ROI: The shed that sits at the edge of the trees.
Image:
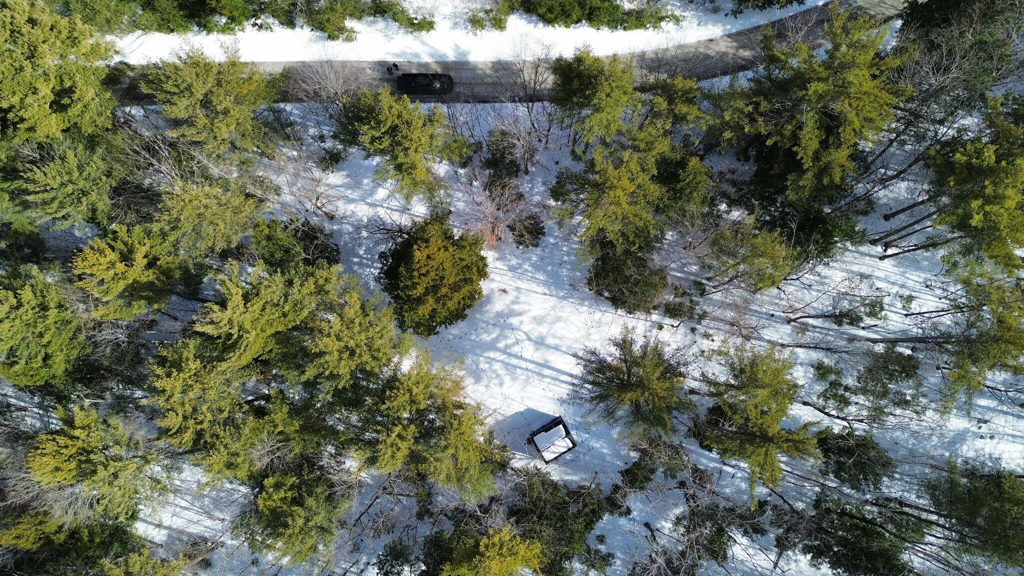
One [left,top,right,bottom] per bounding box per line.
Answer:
[529,417,580,467]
